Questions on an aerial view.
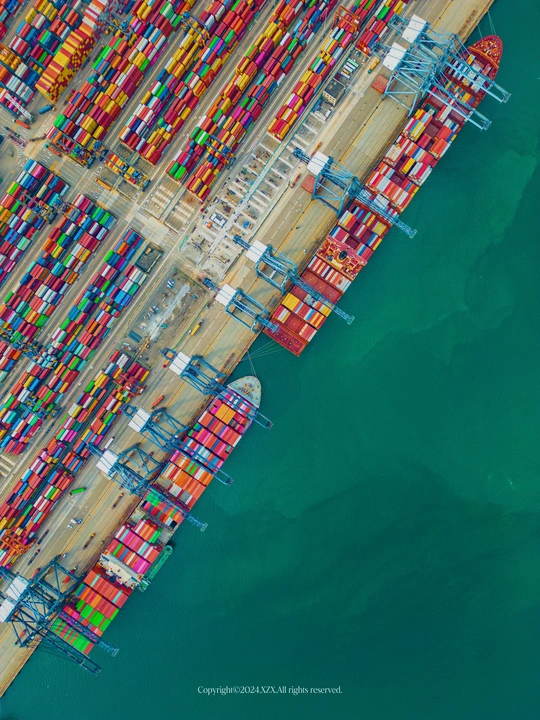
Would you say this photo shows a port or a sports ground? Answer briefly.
port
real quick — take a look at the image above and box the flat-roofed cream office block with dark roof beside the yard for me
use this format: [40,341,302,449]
[323,79,346,108]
